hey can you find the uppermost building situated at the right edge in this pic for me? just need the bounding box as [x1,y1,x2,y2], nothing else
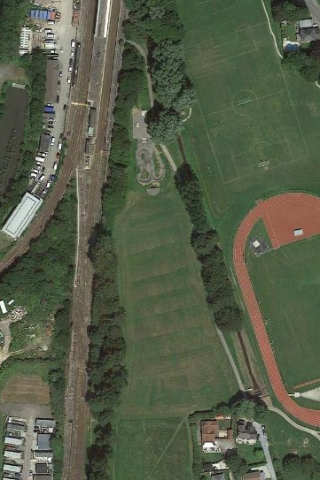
[300,19,320,43]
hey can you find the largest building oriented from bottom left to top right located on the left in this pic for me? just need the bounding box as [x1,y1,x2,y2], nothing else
[1,192,42,239]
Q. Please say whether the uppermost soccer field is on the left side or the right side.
right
